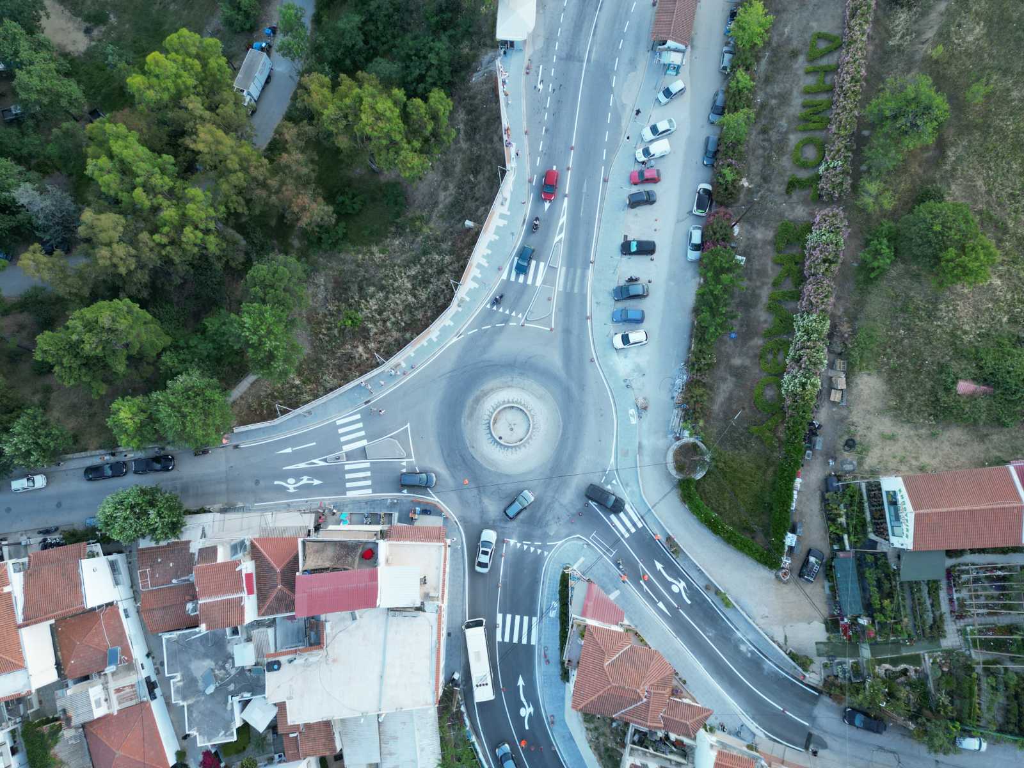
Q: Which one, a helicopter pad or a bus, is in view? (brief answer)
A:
bus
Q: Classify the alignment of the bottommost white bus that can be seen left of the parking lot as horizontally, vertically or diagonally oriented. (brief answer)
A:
vertically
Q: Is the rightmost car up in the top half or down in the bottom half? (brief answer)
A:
bottom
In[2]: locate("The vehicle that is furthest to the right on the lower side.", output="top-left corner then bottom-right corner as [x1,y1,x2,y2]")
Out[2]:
[952,734,986,755]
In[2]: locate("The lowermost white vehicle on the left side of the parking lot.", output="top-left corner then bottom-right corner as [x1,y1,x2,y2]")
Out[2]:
[461,614,495,710]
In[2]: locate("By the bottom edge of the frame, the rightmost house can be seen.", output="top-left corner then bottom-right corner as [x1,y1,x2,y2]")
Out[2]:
[688,727,769,768]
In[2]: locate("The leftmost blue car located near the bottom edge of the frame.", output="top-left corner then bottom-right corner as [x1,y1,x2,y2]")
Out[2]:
[496,738,518,768]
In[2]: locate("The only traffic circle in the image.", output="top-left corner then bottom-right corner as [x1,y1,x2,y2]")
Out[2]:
[439,354,584,498]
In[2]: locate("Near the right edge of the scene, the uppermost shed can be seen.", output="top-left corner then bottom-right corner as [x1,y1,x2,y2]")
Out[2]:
[949,380,993,394]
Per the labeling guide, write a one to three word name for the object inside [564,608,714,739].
house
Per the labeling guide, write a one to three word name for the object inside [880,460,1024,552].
building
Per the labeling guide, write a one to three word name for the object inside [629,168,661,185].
car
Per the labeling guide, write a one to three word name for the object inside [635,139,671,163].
vehicle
